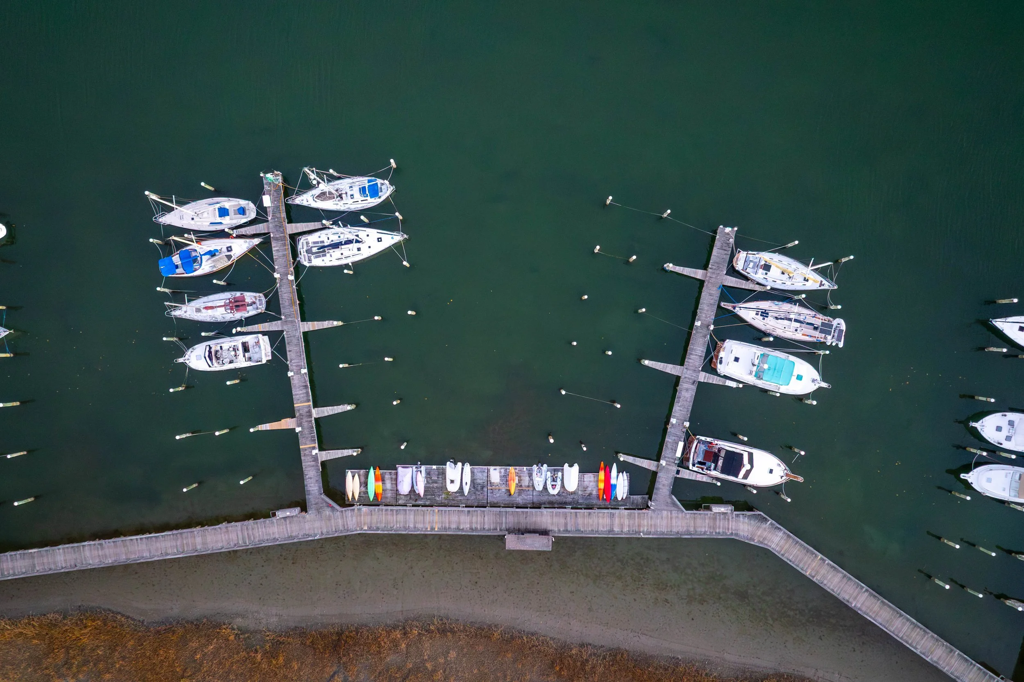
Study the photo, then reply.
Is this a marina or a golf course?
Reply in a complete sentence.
What you see here is a marina.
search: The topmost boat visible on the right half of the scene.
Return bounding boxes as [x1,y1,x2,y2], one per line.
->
[732,251,844,290]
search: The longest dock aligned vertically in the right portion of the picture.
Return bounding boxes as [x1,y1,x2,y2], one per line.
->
[649,228,736,510]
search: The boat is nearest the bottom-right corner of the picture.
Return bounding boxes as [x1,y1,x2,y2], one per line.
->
[960,463,1024,506]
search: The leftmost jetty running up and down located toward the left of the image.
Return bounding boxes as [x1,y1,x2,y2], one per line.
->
[264,175,343,512]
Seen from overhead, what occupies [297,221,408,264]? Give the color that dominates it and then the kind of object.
white boat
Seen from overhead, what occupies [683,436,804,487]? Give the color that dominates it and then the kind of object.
white boat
